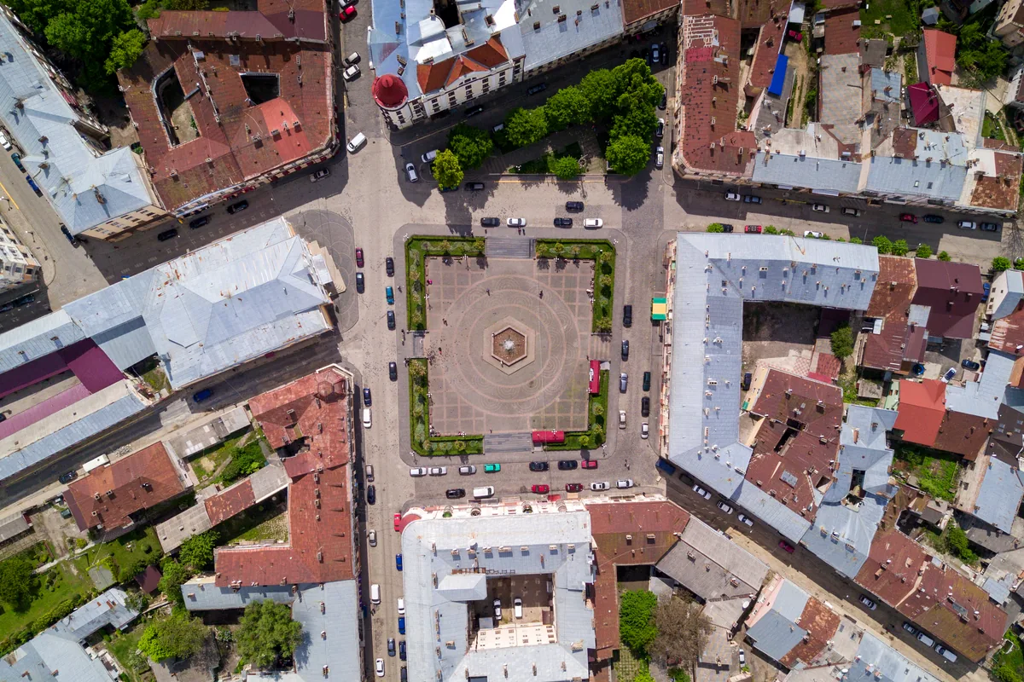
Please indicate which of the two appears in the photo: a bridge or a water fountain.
water fountain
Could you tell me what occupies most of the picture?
buildings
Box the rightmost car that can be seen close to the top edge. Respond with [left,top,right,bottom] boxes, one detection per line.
[786,29,803,43]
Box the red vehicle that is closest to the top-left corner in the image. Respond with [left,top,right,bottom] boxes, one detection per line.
[339,6,358,21]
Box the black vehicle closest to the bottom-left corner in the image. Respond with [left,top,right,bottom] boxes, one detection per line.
[59,470,80,483]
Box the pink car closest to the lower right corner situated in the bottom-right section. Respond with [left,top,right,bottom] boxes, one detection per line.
[777,539,794,553]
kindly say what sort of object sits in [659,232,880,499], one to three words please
building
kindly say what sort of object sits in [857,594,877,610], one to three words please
car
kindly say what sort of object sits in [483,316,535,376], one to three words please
fountain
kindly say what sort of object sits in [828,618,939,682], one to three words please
house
